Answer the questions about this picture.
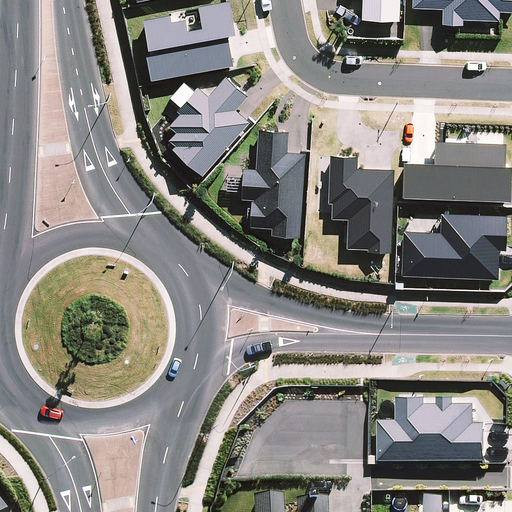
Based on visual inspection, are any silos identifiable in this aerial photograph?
No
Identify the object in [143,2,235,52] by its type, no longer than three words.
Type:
house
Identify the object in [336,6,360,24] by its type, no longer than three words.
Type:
vehicle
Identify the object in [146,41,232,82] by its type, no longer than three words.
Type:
house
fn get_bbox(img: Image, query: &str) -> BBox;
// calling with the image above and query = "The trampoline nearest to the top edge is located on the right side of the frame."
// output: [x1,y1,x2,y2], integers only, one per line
[379,402,395,418]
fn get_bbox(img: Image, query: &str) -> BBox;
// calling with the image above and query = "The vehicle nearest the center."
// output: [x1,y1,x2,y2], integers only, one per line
[246,344,270,356]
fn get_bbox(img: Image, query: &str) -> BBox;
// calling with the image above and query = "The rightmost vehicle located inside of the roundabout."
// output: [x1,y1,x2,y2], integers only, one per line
[168,358,180,378]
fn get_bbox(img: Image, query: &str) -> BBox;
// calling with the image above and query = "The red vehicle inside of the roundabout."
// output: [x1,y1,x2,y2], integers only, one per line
[40,407,62,420]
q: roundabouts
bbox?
[0,214,210,444]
